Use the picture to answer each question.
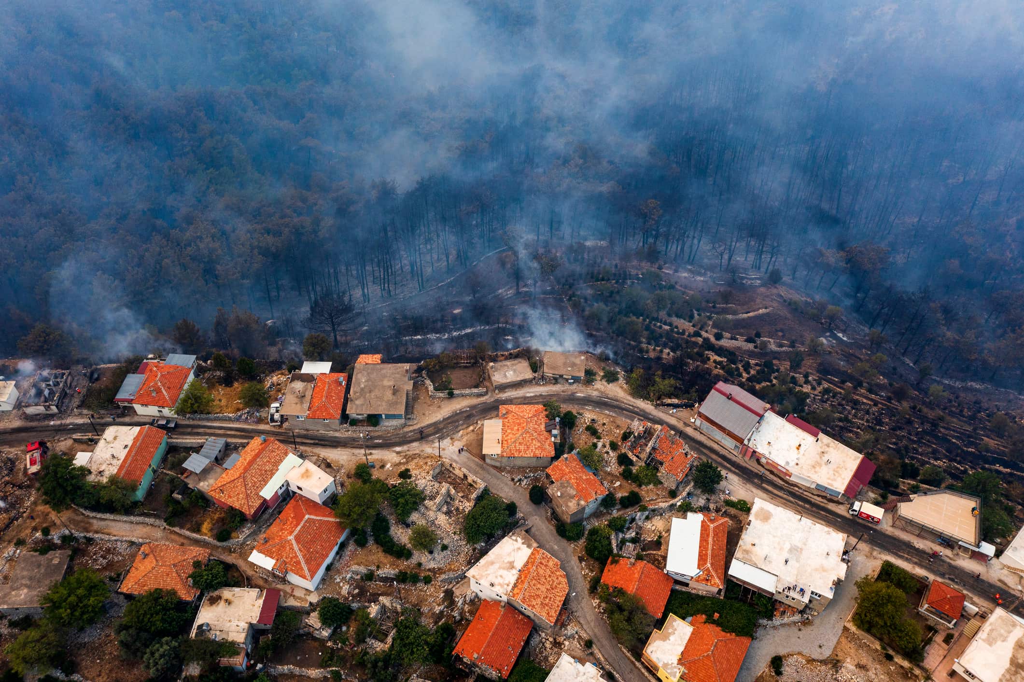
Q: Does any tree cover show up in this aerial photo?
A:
Yes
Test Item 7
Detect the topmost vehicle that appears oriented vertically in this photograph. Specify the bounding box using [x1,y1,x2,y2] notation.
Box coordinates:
[266,399,282,426]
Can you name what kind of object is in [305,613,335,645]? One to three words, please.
shed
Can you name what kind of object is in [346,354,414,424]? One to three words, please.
house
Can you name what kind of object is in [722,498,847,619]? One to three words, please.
building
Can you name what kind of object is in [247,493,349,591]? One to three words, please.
house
